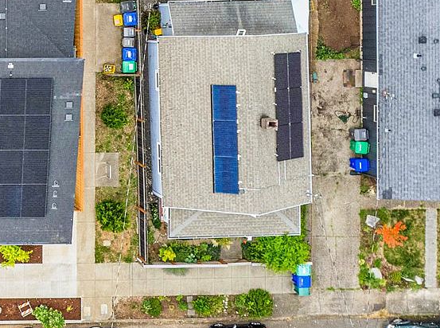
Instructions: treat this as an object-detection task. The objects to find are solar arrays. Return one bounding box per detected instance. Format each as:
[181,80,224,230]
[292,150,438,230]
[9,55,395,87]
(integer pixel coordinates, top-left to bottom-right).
[275,52,305,161]
[0,80,55,223]
[212,86,241,196]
